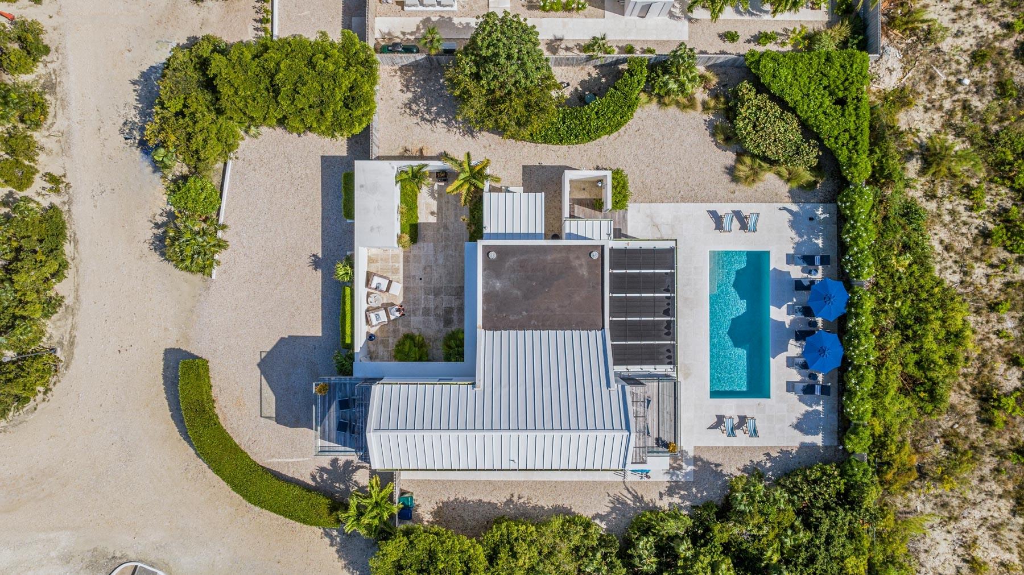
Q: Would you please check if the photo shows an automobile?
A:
No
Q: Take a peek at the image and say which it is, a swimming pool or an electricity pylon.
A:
swimming pool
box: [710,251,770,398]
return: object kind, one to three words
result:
swimming pool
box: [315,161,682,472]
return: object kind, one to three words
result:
house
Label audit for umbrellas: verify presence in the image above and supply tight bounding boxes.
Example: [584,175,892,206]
[805,277,848,321]
[800,330,844,374]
